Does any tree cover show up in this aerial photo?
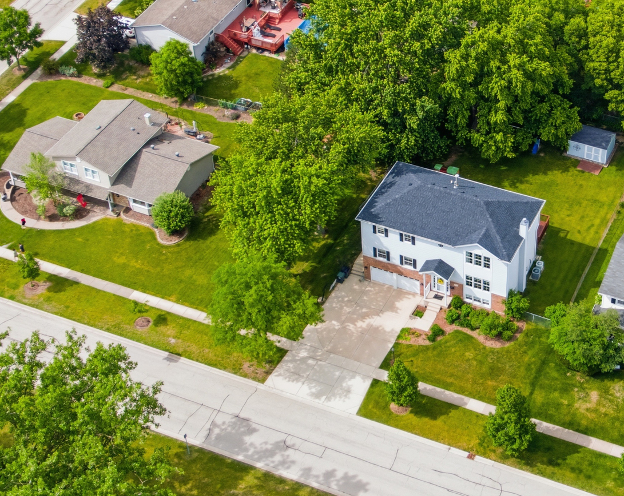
Yes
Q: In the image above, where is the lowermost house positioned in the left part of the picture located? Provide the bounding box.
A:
[0,97,221,221]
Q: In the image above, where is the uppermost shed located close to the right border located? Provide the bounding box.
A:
[562,123,619,175]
